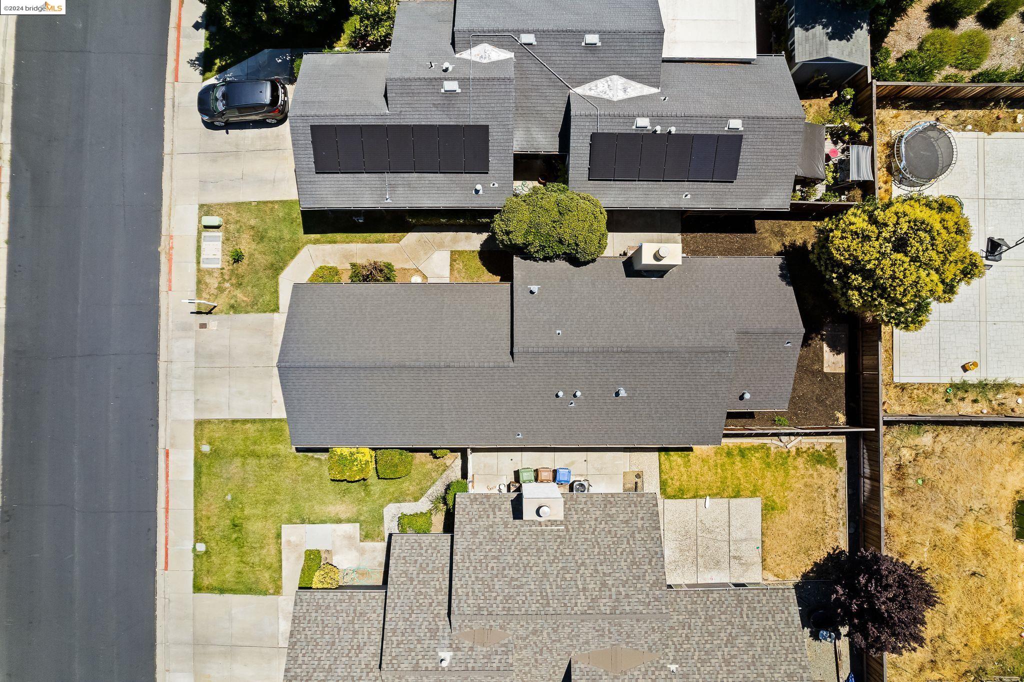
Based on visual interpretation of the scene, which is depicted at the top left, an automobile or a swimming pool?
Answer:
automobile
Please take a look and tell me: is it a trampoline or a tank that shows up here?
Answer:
trampoline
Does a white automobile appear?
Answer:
No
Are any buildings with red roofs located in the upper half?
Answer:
No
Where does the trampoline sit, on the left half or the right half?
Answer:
right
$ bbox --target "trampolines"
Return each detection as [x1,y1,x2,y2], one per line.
[888,120,958,185]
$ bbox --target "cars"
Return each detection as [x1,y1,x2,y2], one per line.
[197,77,292,127]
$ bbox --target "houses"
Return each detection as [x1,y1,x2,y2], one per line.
[284,479,811,682]
[287,0,808,216]
[278,243,805,449]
